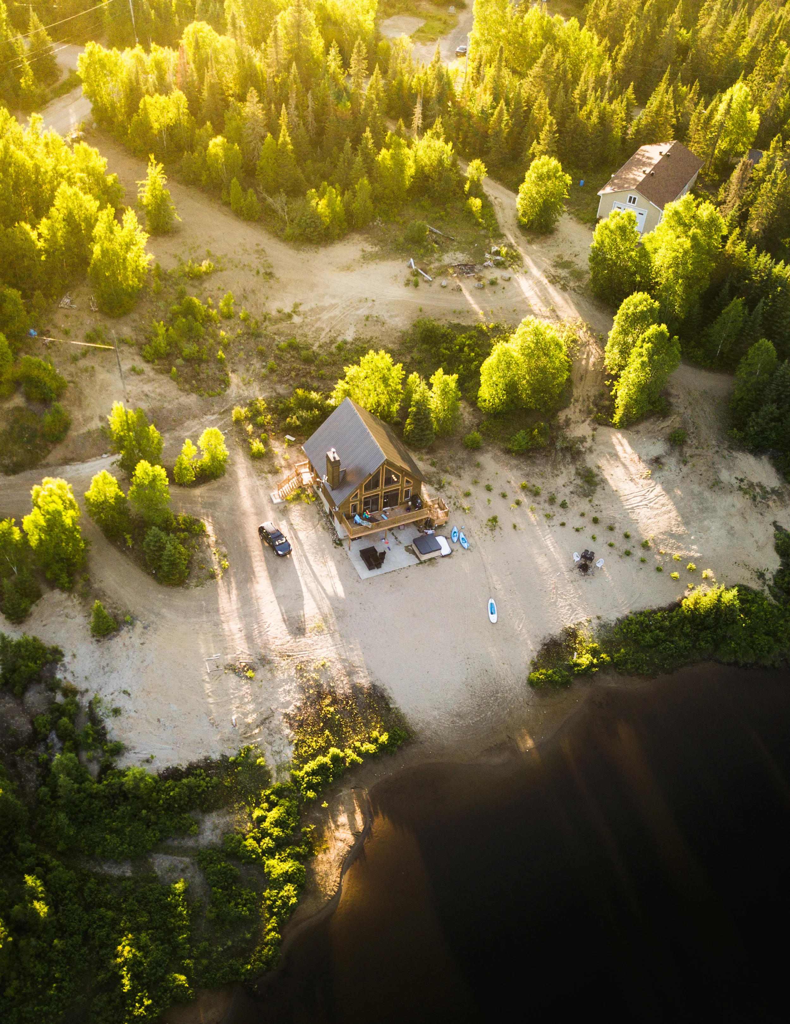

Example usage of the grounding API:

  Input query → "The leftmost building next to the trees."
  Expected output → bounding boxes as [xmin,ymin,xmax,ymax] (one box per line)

[277,396,449,552]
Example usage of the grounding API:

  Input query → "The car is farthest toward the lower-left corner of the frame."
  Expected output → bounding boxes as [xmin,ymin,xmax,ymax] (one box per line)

[257,518,293,554]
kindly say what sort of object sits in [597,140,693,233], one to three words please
building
